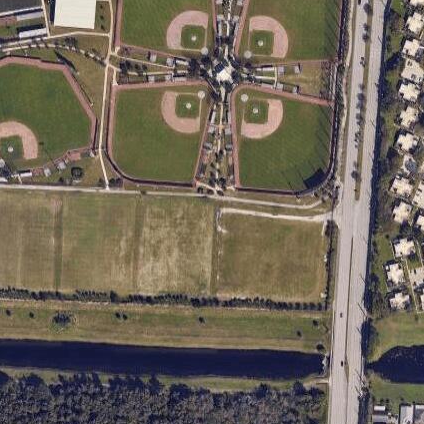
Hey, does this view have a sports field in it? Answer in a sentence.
Yes, a sports field is visible in the scene.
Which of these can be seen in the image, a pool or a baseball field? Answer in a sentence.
Looking from above, you can make out a baseball field.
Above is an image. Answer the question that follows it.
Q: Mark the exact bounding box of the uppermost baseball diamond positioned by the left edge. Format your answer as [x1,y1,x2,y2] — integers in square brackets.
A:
[0,54,101,178]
